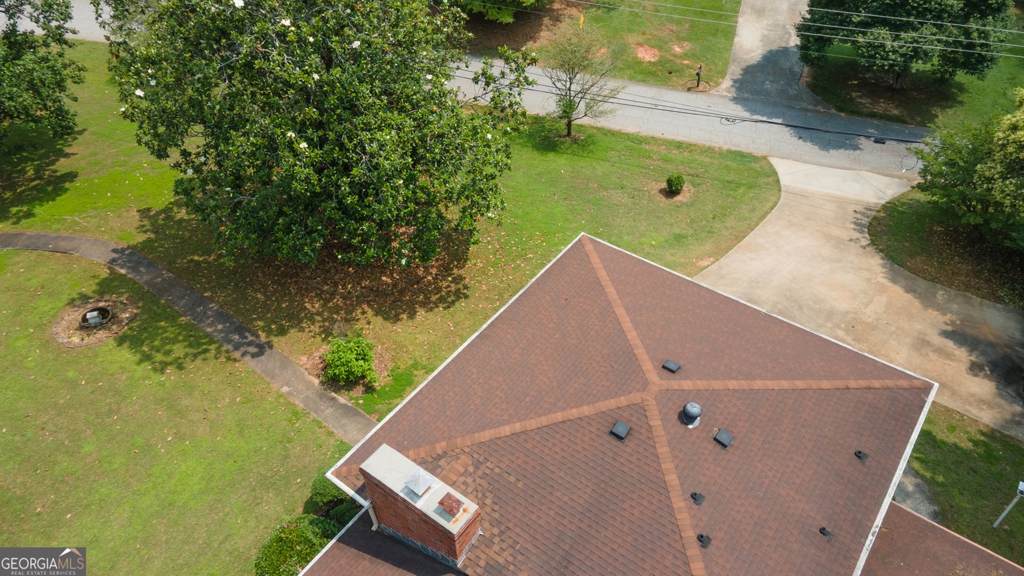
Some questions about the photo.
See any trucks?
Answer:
No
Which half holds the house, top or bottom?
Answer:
bottom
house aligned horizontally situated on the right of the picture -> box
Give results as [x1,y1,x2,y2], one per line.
[296,234,1024,576]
